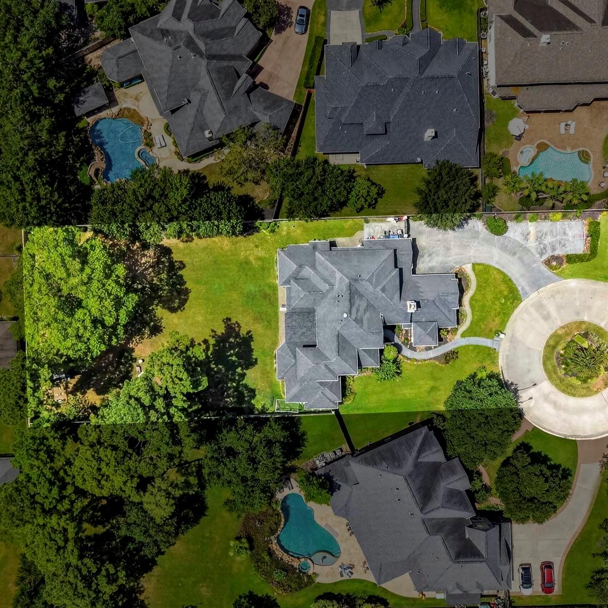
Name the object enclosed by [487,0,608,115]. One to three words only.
house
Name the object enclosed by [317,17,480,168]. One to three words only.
house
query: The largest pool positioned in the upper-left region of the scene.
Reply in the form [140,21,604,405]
[87,116,150,182]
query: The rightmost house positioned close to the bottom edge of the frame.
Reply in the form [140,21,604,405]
[315,427,512,606]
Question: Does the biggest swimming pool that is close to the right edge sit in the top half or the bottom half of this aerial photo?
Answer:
top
